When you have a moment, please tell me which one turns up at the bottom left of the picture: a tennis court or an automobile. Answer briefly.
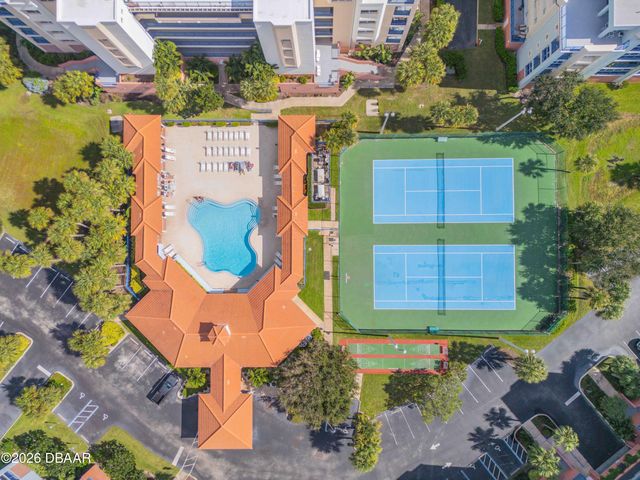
automobile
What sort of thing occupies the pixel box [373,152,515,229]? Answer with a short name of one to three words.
tennis court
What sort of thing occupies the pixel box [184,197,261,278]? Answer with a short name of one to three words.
swimming pool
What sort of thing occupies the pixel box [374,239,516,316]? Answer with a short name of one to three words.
tennis court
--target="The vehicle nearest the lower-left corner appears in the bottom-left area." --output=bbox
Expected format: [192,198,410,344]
[149,375,178,406]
